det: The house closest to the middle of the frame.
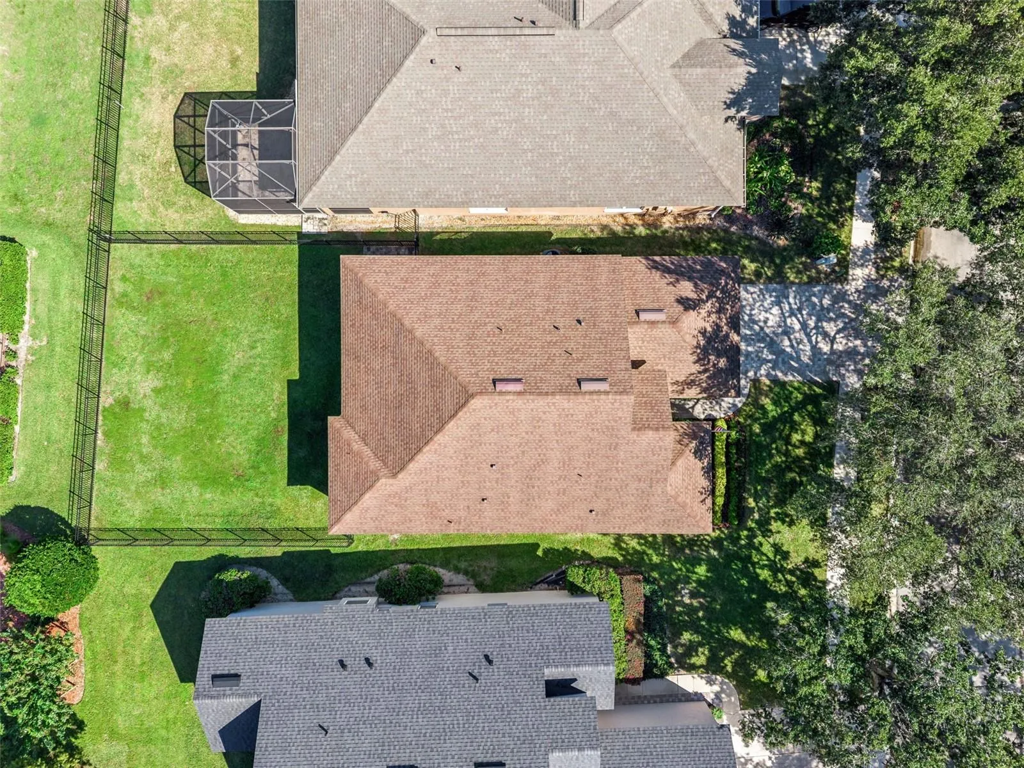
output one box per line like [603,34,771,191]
[328,256,740,534]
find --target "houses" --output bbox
[294,0,791,223]
[328,256,740,534]
[195,587,737,768]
